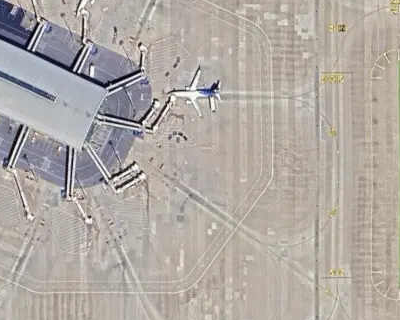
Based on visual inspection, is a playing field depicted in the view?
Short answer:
No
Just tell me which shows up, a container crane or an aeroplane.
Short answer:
aeroplane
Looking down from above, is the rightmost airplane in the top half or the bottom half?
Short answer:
top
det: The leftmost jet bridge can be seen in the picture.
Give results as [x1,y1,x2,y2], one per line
[2,125,34,220]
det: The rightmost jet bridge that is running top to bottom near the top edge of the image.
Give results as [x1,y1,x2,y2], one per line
[73,9,97,75]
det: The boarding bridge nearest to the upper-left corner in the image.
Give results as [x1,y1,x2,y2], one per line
[26,0,51,53]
